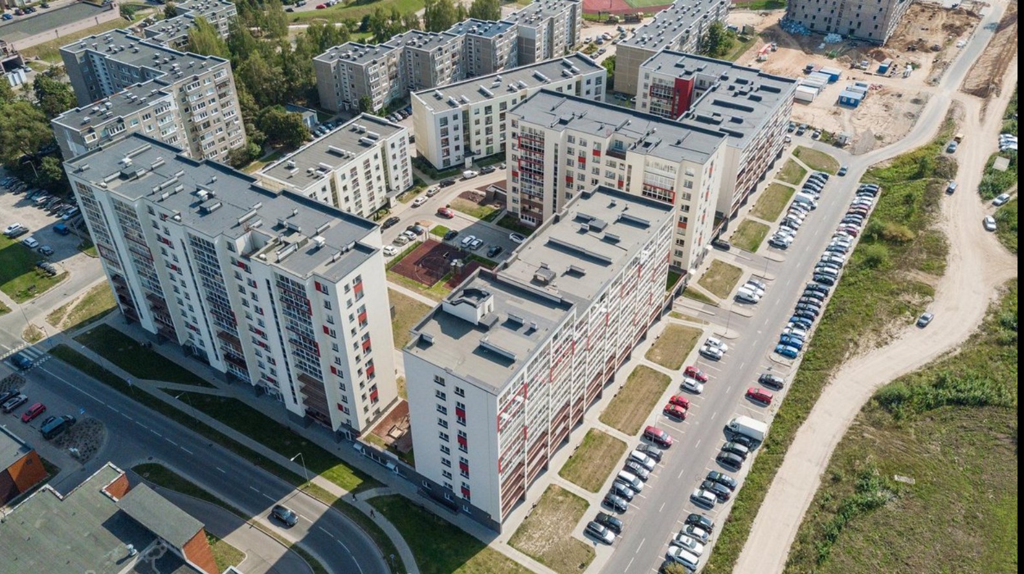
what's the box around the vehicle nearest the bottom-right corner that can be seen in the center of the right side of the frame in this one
[914,314,936,327]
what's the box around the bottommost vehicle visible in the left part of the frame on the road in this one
[271,504,299,528]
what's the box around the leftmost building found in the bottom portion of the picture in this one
[0,425,46,501]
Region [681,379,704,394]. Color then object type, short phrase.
white car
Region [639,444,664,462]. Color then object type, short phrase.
gray car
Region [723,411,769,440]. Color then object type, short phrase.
white truck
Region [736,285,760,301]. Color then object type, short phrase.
white vehicle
